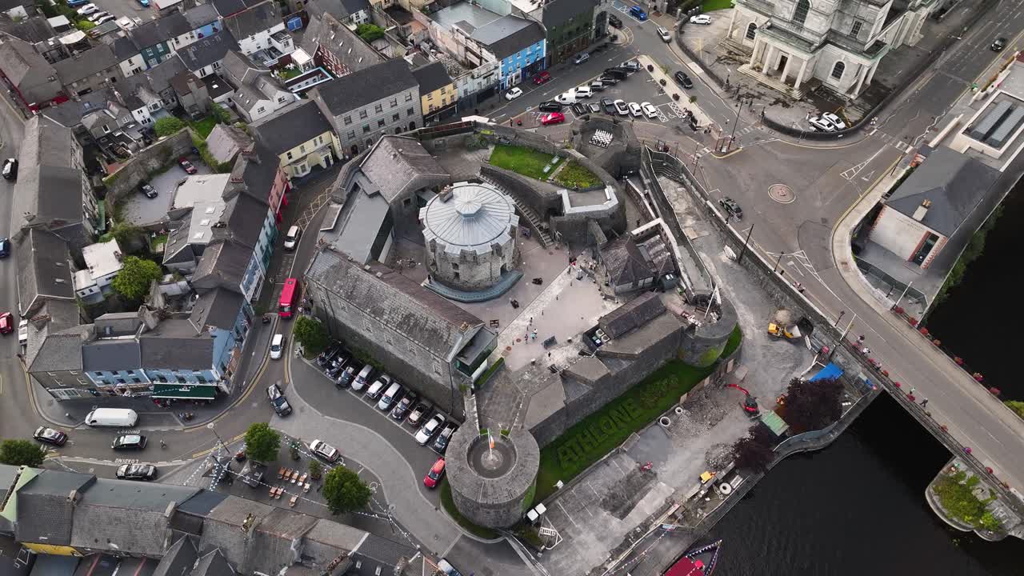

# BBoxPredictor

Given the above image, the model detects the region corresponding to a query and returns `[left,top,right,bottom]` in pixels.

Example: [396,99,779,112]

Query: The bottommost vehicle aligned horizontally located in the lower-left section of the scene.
[115,461,159,481]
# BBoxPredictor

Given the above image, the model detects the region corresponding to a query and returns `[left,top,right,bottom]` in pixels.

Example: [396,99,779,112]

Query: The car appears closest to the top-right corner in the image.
[990,37,1009,53]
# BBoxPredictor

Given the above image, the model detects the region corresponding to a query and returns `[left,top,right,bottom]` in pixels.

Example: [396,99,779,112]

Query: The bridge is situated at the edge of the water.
[869,311,1024,556]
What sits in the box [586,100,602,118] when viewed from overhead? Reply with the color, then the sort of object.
gray car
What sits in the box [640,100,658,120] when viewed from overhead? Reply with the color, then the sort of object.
white car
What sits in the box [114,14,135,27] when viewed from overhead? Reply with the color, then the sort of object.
white vehicle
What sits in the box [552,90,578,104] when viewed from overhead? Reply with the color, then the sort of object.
white vehicle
